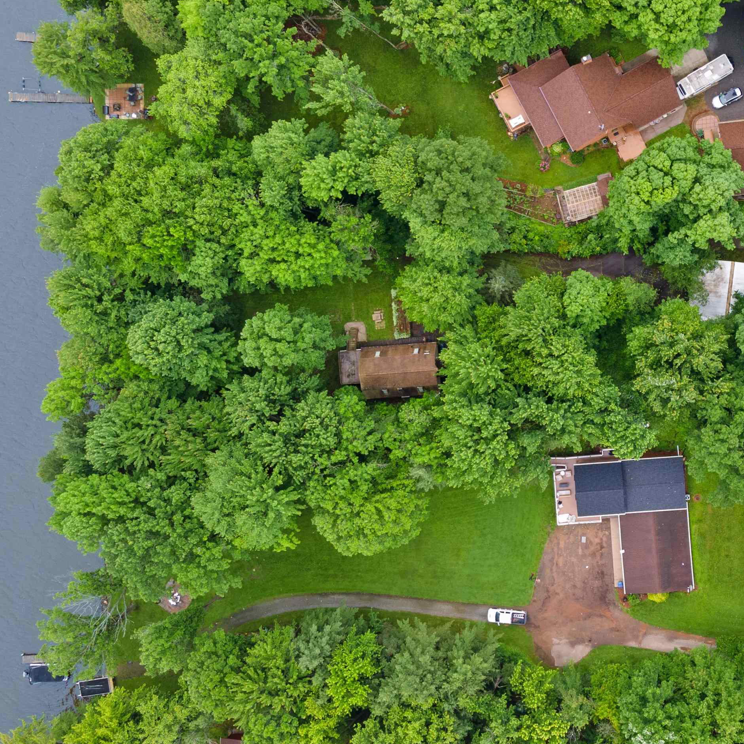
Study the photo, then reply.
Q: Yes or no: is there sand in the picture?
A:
No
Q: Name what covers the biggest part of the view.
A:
trees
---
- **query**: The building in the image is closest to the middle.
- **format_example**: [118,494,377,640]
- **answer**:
[336,328,444,399]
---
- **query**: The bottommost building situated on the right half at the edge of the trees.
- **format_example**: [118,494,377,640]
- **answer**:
[551,449,693,593]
